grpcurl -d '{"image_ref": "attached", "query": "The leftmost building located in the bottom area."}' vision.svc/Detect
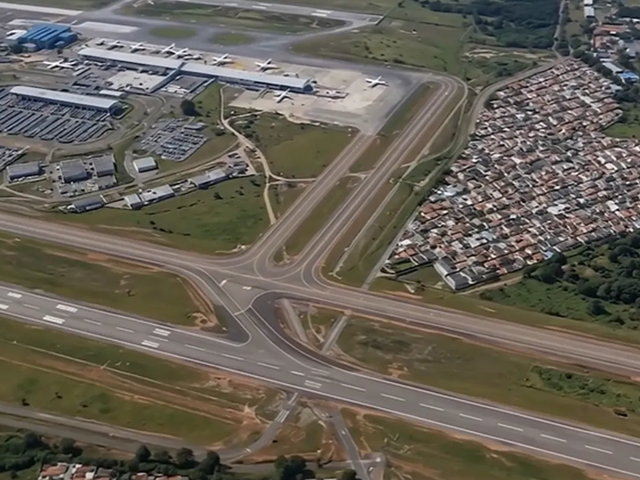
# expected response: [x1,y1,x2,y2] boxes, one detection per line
[41,462,67,480]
